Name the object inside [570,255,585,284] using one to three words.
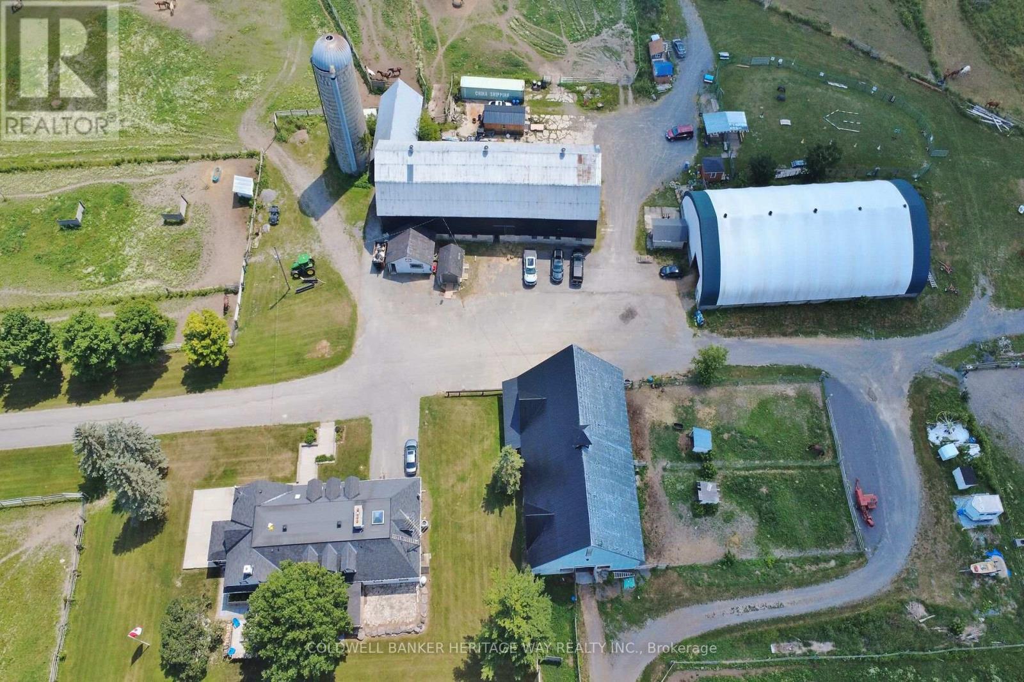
vehicle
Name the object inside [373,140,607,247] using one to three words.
barn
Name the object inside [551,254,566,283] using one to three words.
car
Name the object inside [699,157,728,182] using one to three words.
shed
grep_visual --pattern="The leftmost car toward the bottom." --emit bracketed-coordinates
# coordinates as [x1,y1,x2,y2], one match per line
[400,438,420,475]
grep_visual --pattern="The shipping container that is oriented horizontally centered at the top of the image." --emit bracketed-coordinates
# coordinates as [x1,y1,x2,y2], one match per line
[461,78,526,103]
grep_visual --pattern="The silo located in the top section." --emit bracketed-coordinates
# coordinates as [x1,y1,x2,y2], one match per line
[313,39,373,177]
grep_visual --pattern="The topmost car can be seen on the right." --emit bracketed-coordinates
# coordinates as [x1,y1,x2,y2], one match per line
[673,38,688,56]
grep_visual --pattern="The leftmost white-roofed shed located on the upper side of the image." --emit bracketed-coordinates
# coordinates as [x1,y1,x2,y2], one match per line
[226,181,256,208]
